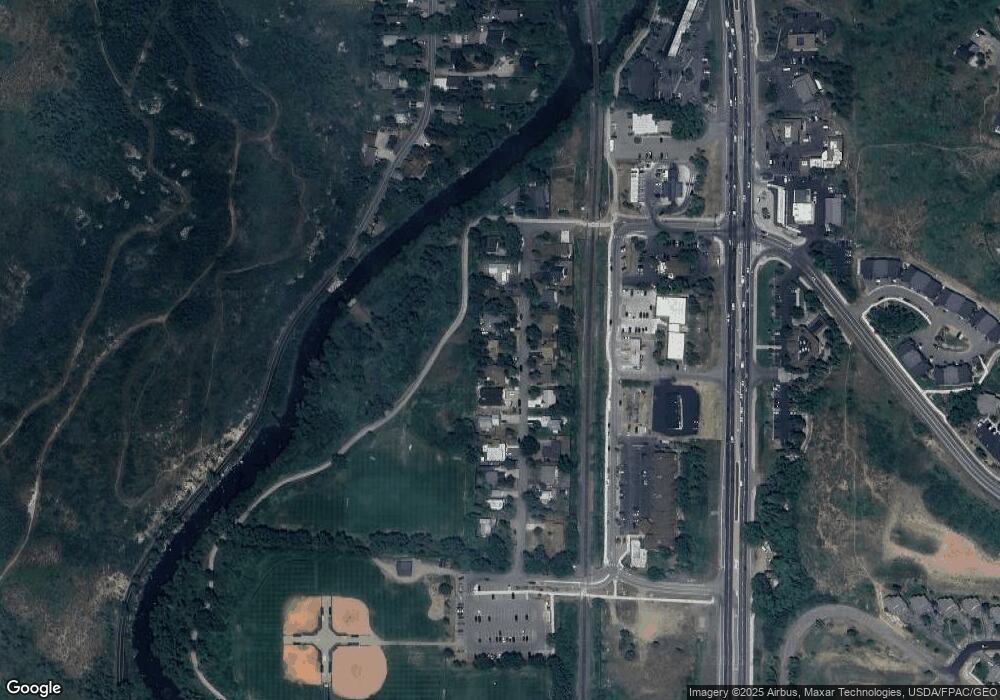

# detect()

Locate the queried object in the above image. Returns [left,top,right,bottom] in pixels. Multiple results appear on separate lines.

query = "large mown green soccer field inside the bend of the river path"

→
[254,447,475,536]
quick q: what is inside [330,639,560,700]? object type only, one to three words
baseball field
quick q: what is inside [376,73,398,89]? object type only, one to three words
house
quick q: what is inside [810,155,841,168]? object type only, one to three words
building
